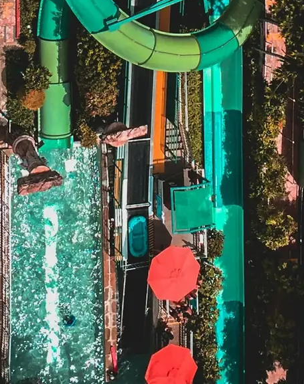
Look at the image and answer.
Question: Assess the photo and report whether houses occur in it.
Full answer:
No, this view has no house in it.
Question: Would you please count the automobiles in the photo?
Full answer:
There are no automobiles in this view.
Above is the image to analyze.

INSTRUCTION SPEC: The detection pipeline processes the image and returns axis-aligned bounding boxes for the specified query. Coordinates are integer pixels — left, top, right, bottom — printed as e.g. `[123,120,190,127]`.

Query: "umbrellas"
[142,319,197,384]
[145,231,199,299]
